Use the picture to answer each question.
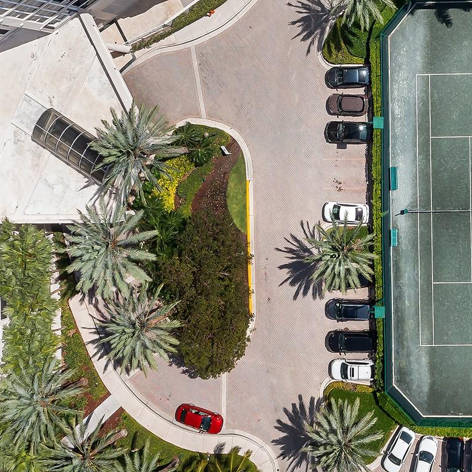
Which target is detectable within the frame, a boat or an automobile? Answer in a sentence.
The one in the frame is an automobile.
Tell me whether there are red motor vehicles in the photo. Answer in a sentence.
Yes, the photo shows a red motor vehicle.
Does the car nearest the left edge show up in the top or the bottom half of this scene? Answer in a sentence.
It is in the bottom half that the car nearest the left edge appears.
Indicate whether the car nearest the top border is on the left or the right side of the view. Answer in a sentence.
It is on the right.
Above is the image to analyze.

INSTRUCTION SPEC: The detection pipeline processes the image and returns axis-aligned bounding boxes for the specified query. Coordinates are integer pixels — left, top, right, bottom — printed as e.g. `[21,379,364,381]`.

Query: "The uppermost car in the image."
[324,64,370,89]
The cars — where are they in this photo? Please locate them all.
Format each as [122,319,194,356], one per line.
[324,119,371,146]
[412,437,438,472]
[169,404,223,437]
[326,359,373,387]
[324,299,371,325]
[324,64,370,89]
[325,92,367,117]
[322,202,369,226]
[445,439,464,472]
[383,425,414,472]
[326,271,370,295]
[324,330,372,357]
